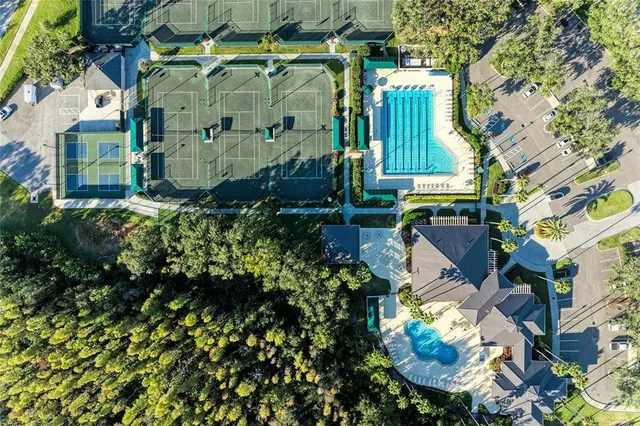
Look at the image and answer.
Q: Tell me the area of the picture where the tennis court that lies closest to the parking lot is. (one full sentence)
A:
The tennis court that lies closest to the parking lot is located in the top region of the scene.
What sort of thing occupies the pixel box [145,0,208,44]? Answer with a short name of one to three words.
tennis court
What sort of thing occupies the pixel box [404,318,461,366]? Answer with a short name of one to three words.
swimming pool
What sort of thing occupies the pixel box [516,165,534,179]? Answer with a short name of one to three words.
vehicle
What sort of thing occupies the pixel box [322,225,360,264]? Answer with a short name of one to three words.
building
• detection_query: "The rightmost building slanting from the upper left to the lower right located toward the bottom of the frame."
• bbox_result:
[411,225,568,426]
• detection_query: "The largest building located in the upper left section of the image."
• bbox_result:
[85,52,129,92]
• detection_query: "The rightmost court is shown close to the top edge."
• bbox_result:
[332,0,395,42]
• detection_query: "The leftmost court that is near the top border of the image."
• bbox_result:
[84,0,144,42]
